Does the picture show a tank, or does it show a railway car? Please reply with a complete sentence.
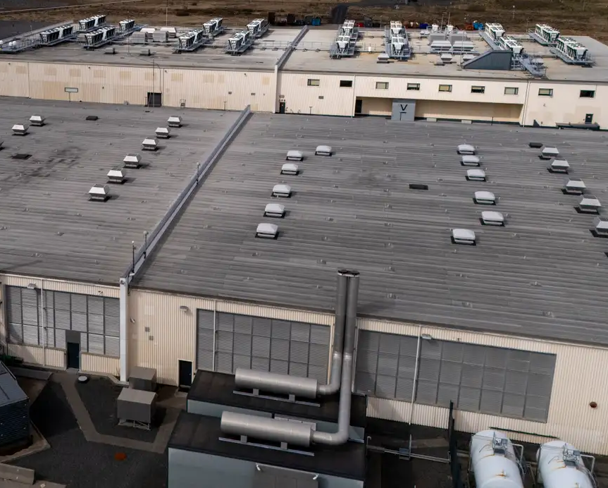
The one in the frame is a tank.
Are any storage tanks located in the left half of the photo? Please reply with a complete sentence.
No, I can find no storage tank in the left half of the photo.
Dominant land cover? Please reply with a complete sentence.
The largest share of the image is taken up by buildings.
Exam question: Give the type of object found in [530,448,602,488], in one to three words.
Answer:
storage tank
